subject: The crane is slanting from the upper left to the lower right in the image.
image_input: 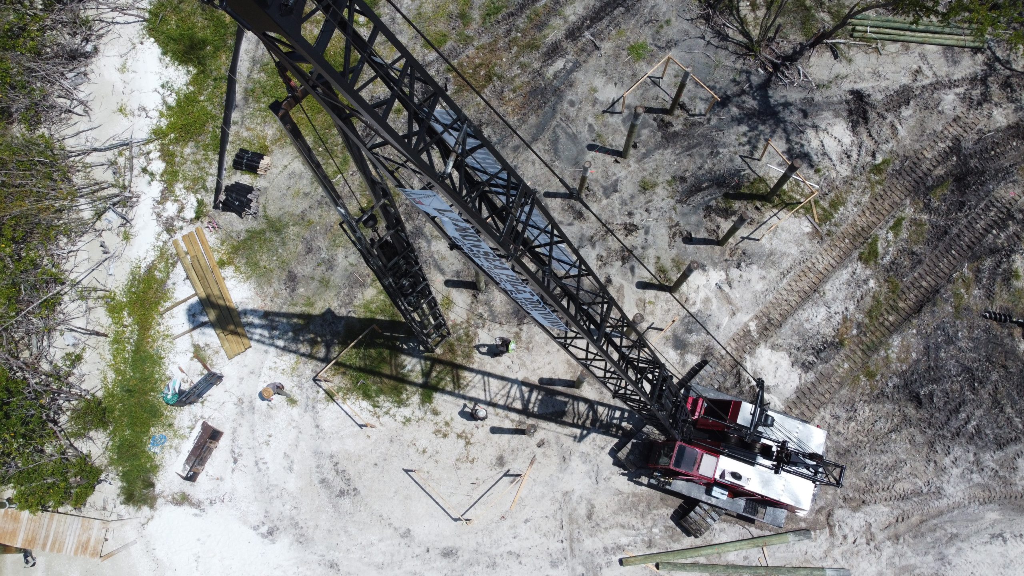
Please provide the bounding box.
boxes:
[222,0,847,540]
